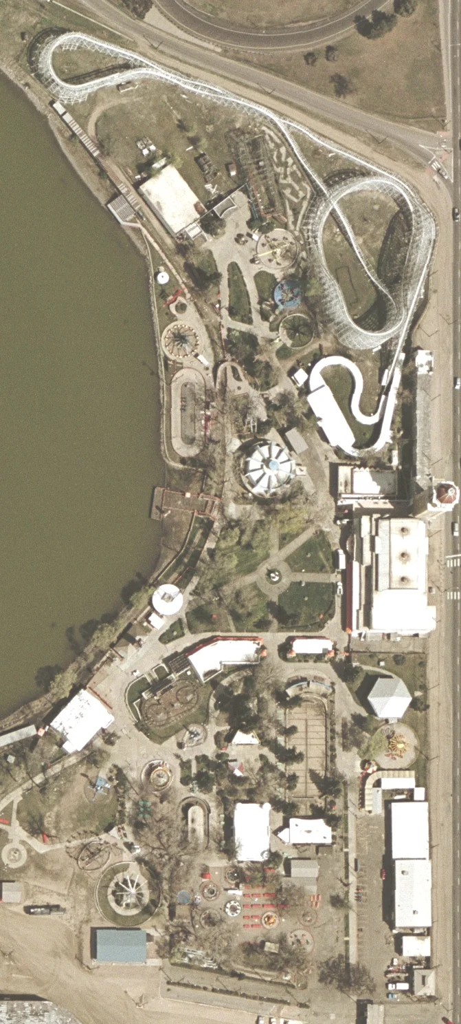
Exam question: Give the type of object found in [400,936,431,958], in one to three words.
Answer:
building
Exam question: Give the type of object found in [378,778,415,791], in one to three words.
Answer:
building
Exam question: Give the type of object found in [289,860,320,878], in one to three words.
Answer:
shed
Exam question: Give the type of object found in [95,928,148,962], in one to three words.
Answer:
shed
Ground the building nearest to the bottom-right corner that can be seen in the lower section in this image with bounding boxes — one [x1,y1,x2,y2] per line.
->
[412,969,436,996]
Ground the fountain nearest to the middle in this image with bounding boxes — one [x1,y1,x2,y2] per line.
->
[267,568,284,585]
